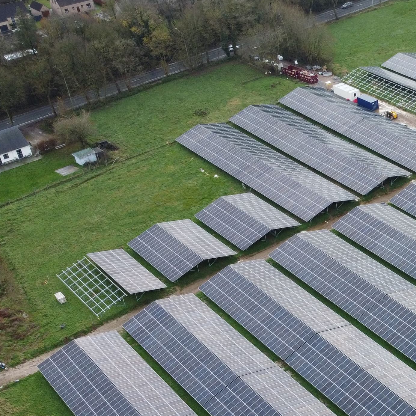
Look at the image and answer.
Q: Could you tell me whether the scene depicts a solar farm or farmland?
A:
solar farm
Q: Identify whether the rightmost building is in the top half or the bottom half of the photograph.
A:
top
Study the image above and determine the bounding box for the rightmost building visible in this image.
[333,81,360,101]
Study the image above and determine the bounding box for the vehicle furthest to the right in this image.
[380,107,401,121]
